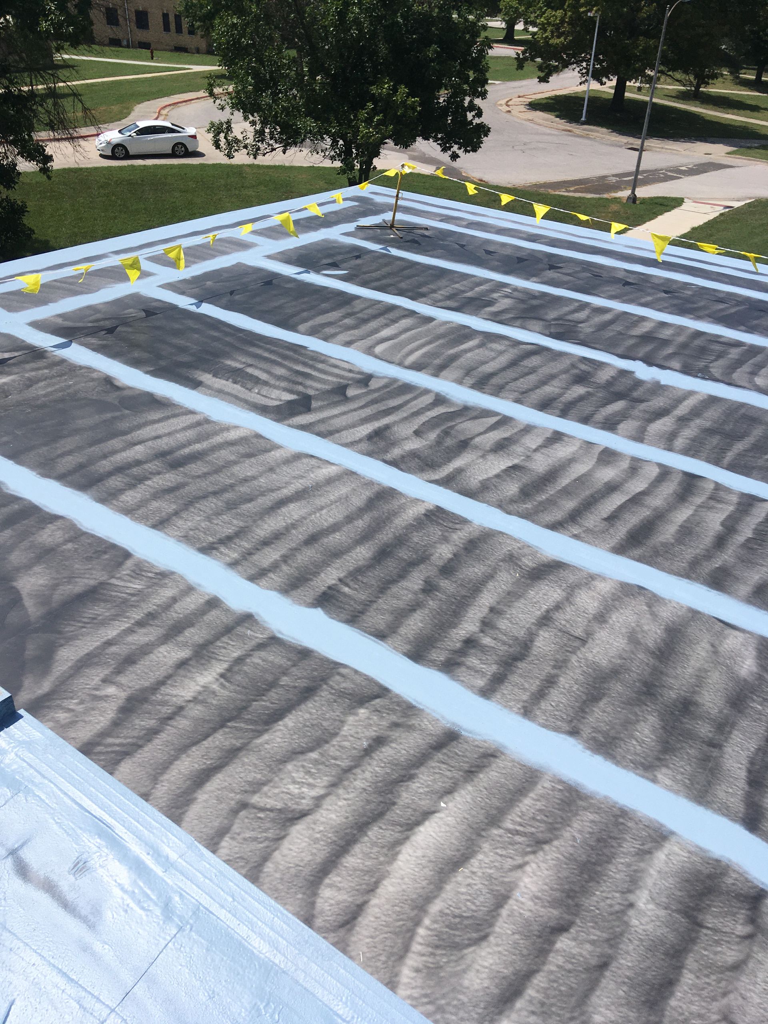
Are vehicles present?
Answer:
Yes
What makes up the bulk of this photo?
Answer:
buildings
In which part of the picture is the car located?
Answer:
top left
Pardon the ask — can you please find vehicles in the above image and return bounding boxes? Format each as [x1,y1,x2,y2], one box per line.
[87,115,199,156]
